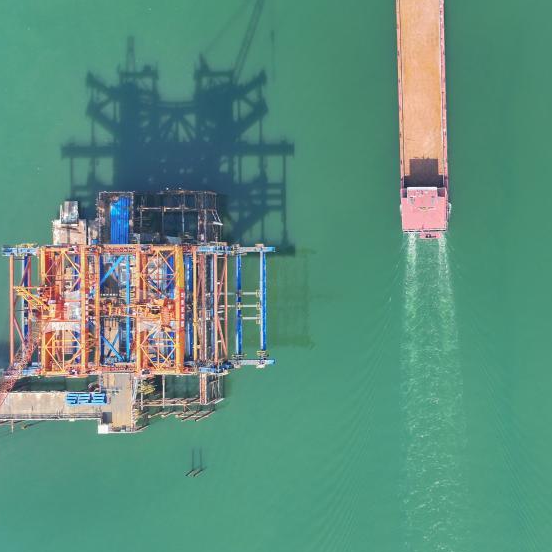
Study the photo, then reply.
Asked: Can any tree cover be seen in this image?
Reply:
No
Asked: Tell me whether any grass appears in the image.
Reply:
No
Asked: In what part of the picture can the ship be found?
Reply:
top right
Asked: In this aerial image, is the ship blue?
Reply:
No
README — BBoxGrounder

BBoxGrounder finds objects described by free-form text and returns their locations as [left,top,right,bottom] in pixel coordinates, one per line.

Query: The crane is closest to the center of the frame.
[118,243,200,376]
